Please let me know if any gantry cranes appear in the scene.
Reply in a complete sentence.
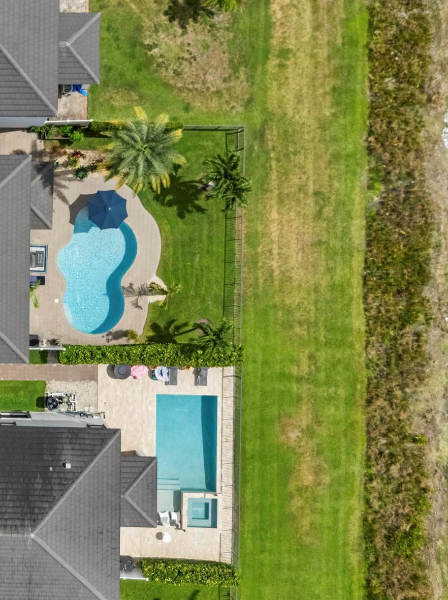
No, there appears to be no gantry crane in this shot.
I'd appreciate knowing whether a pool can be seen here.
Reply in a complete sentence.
Yes, the photo shows a pool.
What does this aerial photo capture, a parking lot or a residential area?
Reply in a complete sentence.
It's a residential area.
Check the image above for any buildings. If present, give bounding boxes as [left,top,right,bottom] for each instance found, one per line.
[0,0,103,127]
[0,153,55,365]
[0,412,159,600]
